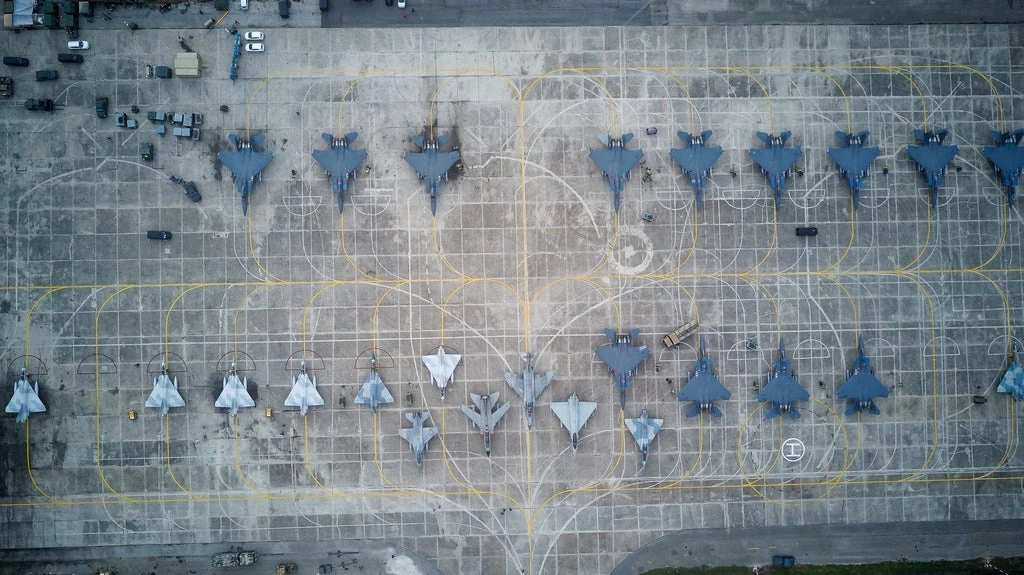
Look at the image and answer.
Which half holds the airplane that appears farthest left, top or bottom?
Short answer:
bottom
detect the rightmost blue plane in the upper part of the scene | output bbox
[982,126,1024,205]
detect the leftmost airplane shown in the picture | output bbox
[5,363,46,425]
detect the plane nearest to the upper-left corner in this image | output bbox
[217,134,275,216]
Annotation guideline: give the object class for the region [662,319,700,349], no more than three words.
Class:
truck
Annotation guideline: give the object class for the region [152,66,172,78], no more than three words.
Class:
vehicle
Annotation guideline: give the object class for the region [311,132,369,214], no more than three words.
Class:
airplane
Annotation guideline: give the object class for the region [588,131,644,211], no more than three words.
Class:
airplane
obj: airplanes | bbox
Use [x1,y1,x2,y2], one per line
[669,130,725,210]
[354,351,394,412]
[404,133,461,213]
[550,395,596,455]
[595,329,651,410]
[284,356,324,416]
[396,412,439,474]
[756,339,811,419]
[624,410,663,476]
[421,346,460,411]
[215,356,255,417]
[311,132,369,214]
[982,126,1024,205]
[461,391,510,458]
[749,129,805,209]
[906,128,961,207]
[503,352,553,432]
[145,357,186,418]
[676,338,732,419]
[827,129,883,209]
[5,363,46,425]
[588,131,644,211]
[217,134,275,216]
[835,337,890,416]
